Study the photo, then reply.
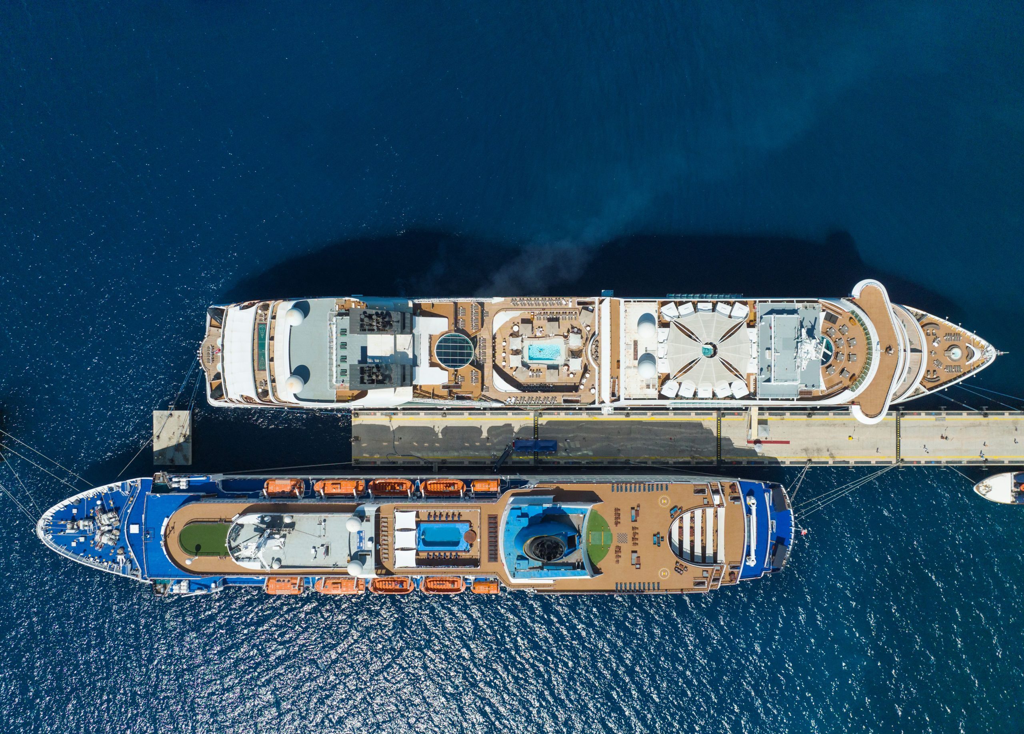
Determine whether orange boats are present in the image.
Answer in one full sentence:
Yes, the picture does show an orange boat.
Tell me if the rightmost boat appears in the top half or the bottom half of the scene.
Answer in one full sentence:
Seen from above, the rightmost boat lies in the bottom half of the view.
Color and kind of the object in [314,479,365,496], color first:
orange boat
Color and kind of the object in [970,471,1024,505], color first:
white boat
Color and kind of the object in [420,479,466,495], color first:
orange boat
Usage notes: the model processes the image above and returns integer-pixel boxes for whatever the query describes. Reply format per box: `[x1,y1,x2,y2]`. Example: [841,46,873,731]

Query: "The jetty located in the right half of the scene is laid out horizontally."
[352,406,1024,470]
